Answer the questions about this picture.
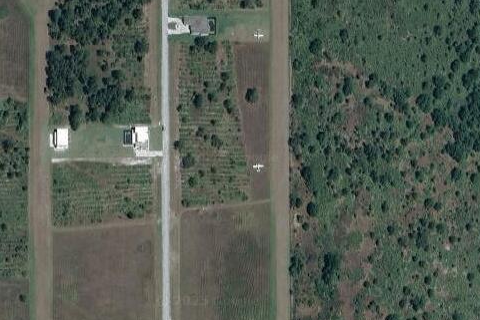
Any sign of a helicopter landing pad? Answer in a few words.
No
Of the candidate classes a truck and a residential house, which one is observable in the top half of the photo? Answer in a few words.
residential house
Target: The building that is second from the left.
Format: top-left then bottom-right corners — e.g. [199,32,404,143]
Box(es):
[124,126,163,156]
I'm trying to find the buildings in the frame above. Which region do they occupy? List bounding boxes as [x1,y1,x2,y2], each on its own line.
[124,126,163,156]
[169,17,216,35]
[50,129,68,150]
